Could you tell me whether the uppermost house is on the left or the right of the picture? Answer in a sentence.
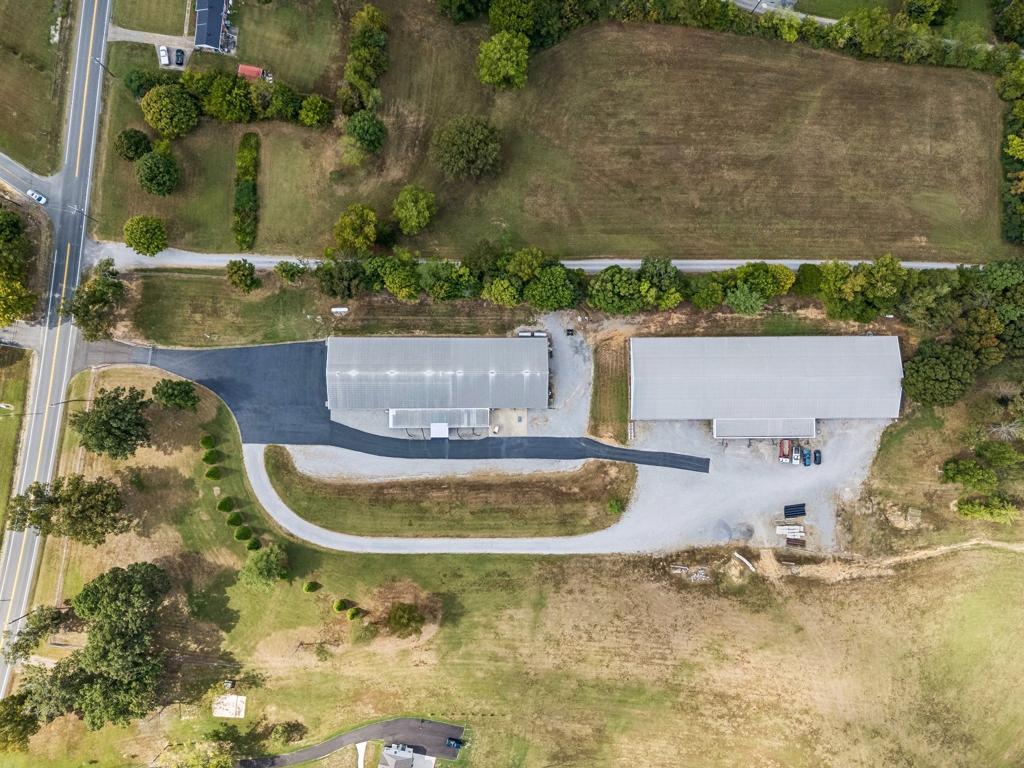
The uppermost house is on the left side of the image.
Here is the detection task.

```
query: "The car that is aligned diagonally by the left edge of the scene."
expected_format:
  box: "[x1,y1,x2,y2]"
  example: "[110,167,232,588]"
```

[27,189,47,204]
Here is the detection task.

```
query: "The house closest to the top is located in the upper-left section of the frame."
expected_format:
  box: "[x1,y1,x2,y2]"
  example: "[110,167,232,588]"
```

[194,0,226,53]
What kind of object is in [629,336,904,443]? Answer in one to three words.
building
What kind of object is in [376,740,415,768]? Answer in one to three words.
house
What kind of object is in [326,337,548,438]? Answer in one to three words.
building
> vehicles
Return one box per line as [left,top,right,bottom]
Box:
[444,738,464,748]
[175,49,184,66]
[159,45,169,66]
[813,449,822,465]
[792,446,801,465]
[27,189,47,204]
[779,440,792,463]
[802,448,812,467]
